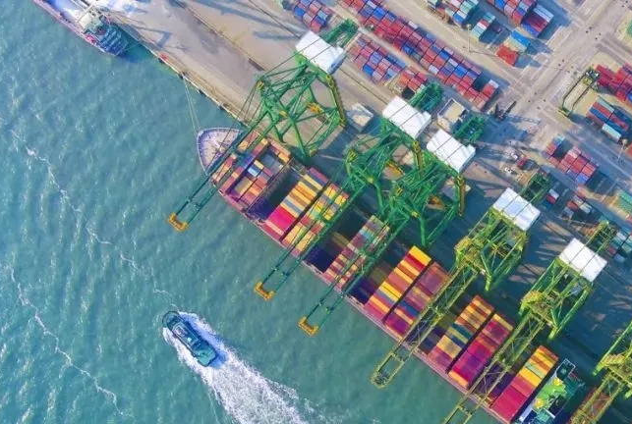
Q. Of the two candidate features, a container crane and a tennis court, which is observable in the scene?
container crane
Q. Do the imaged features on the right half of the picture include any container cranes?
Yes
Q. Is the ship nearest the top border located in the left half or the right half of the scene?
left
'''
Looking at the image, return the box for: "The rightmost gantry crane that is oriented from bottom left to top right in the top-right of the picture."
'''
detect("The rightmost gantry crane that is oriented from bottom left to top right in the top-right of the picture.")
[554,68,603,132]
